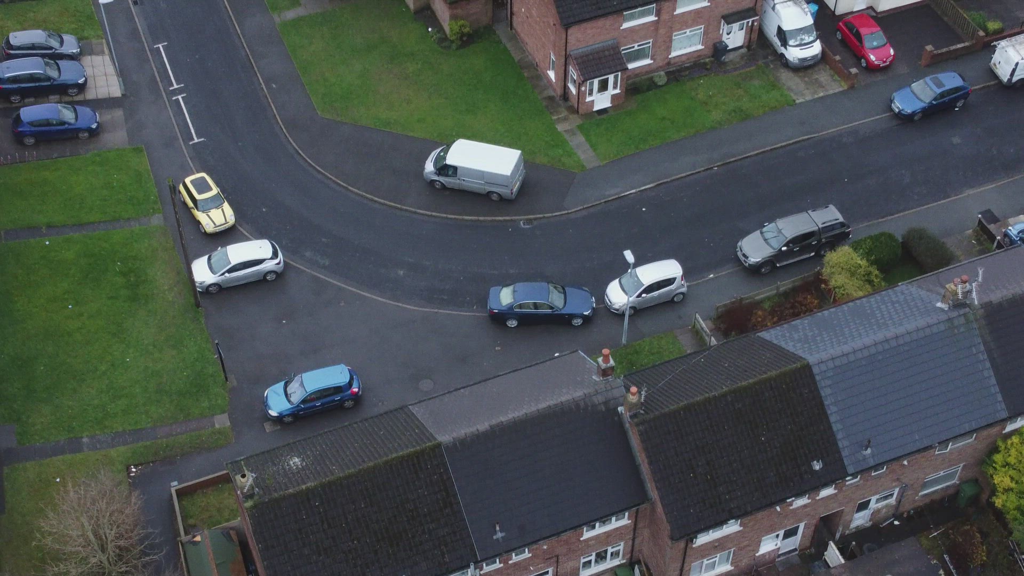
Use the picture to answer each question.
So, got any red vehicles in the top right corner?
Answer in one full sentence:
Yes, there is a red vehicle in the top right corner.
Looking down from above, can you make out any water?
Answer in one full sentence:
No, the scene doesn't show any water.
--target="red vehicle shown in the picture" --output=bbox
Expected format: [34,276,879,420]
[834,13,893,69]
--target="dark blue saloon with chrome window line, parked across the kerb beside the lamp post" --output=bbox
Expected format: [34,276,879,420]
[486,279,596,329]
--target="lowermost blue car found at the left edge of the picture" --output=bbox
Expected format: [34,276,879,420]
[12,100,102,146]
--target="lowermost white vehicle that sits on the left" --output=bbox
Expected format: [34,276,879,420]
[192,236,288,295]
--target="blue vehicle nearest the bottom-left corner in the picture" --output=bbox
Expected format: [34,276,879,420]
[264,361,365,426]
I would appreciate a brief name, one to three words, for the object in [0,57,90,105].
car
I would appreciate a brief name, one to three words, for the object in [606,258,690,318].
car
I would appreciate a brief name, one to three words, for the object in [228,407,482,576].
house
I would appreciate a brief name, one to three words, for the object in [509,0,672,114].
house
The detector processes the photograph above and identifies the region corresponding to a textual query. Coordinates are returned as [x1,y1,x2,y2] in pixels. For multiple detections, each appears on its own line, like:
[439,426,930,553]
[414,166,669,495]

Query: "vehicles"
[0,26,83,66]
[606,258,690,318]
[264,361,365,426]
[736,205,848,277]
[889,69,973,122]
[975,34,1024,92]
[176,169,237,237]
[192,236,288,295]
[423,139,528,202]
[758,0,822,72]
[486,279,596,329]
[834,13,893,69]
[12,100,102,146]
[0,57,90,105]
